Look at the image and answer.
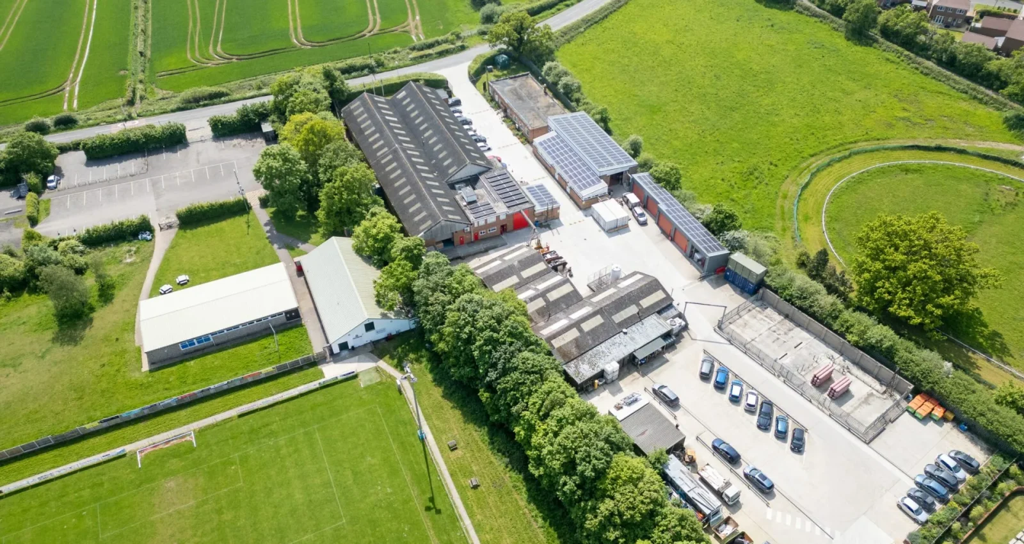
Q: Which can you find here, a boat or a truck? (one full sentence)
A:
This aerial view contains a truck.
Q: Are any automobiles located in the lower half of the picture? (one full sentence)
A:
Yes, an automobile is visible in the lower half of the picture.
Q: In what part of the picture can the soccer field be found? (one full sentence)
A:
Look in the bottom left portion of the view to spot the soccer field.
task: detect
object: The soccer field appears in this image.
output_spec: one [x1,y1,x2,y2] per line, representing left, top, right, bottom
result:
[0,374,468,544]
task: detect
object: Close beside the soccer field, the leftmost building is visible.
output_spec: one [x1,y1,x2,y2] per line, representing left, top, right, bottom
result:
[140,262,300,371]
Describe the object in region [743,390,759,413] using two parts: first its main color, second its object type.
white car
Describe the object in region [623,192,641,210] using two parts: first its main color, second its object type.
white vehicle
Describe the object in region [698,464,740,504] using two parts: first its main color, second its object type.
white truck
